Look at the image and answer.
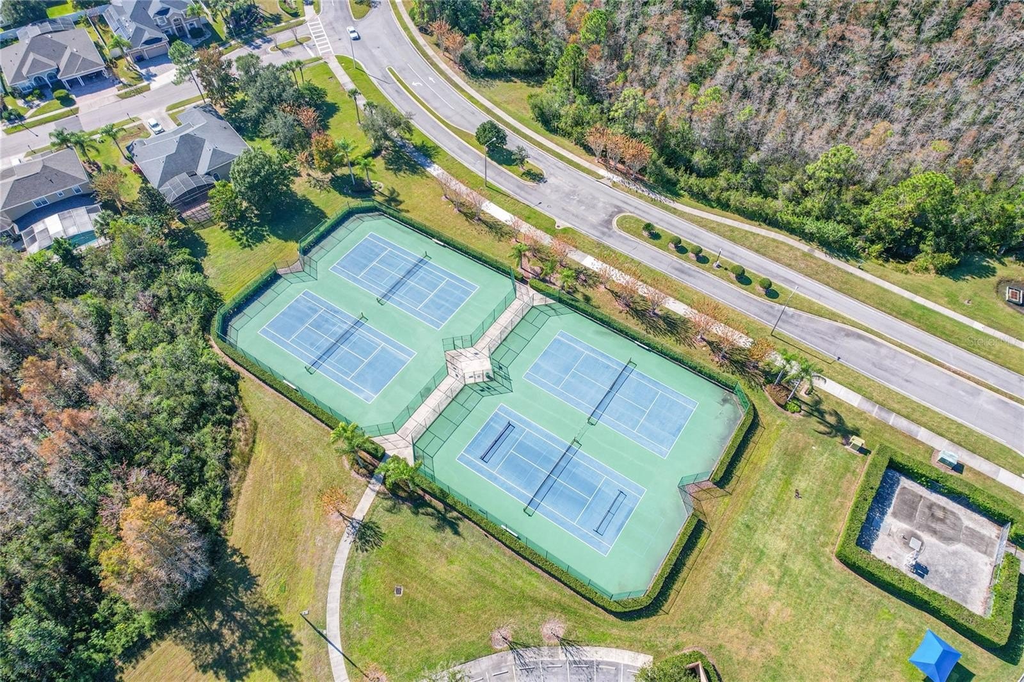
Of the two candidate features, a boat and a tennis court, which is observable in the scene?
tennis court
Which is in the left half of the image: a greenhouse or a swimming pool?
swimming pool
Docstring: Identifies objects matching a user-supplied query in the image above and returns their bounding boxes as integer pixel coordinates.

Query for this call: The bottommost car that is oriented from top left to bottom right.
[146,116,164,134]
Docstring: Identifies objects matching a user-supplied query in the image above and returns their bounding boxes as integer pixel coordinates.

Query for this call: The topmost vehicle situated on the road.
[347,28,359,40]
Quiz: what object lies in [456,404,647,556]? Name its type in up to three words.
tennis court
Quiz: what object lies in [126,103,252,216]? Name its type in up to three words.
house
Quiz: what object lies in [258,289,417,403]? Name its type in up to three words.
tennis court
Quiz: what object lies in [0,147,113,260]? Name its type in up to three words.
house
